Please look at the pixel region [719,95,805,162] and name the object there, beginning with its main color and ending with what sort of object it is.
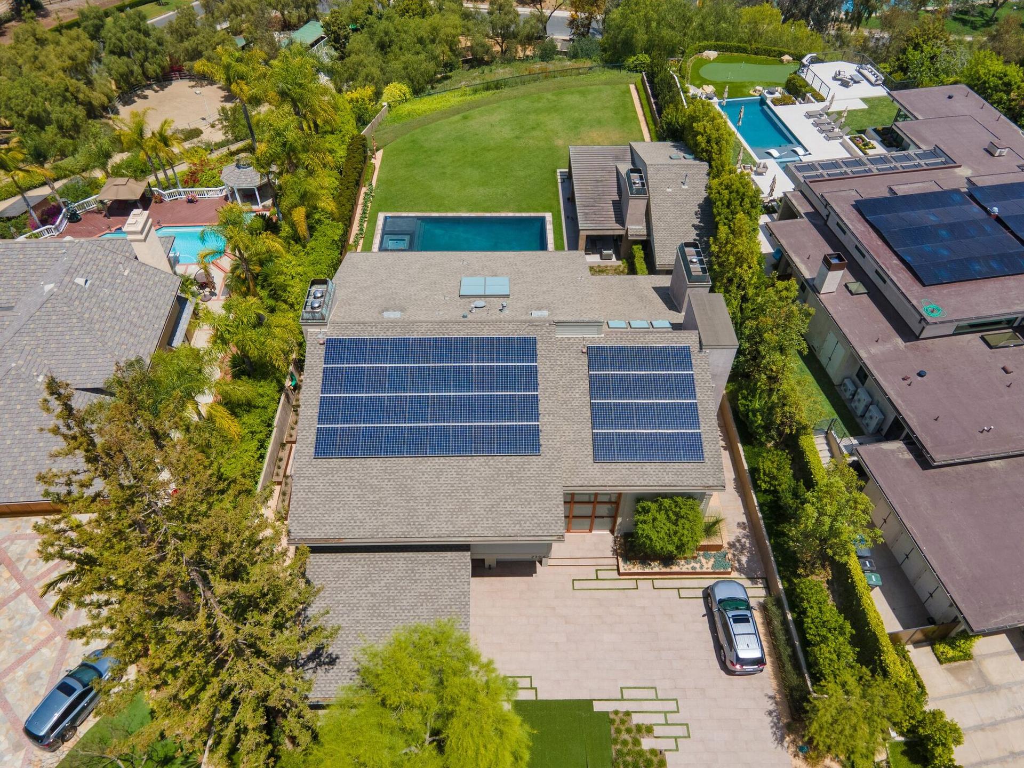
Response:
blue swimming pool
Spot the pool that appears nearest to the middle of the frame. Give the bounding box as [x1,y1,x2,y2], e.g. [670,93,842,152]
[371,213,554,252]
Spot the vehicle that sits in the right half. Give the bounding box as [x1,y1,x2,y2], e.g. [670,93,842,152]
[710,578,769,680]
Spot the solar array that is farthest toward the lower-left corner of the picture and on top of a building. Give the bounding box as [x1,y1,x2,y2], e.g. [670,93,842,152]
[314,335,540,459]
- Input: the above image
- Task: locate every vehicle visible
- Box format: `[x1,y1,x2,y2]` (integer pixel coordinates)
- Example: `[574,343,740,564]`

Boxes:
[18,644,129,758]
[710,578,769,680]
